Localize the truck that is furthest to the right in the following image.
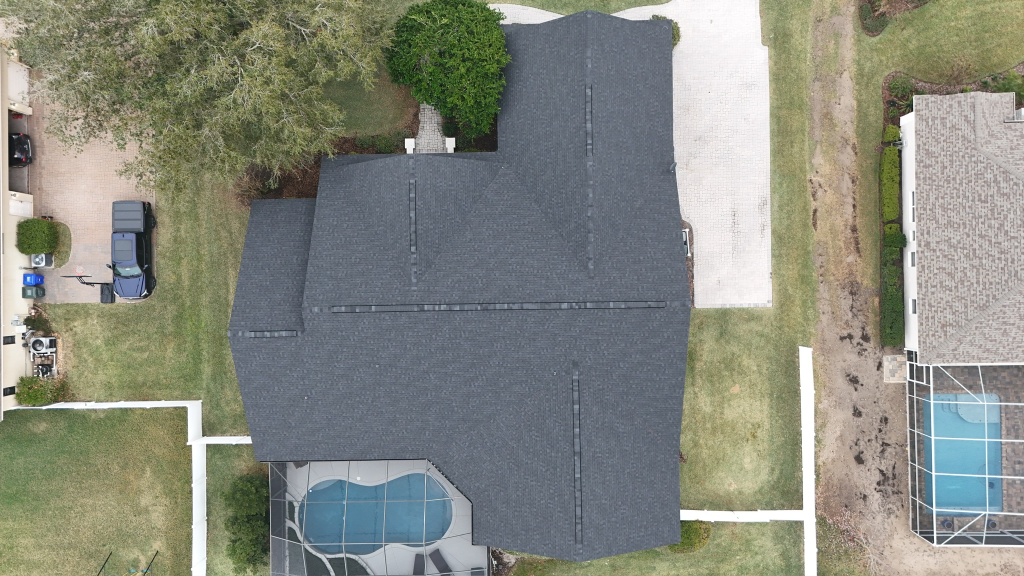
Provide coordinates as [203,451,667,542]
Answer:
[108,200,158,299]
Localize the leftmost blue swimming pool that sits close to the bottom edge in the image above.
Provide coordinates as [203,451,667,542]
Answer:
[295,469,457,559]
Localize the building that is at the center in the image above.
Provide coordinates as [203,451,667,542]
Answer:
[229,11,691,562]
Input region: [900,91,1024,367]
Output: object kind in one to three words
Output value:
house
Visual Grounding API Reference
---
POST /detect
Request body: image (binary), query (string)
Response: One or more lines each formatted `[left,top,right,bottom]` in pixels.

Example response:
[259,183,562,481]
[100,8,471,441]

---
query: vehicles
[108,200,158,299]
[8,134,35,168]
